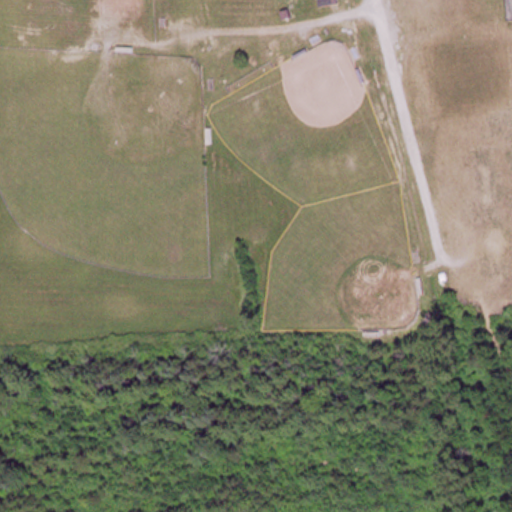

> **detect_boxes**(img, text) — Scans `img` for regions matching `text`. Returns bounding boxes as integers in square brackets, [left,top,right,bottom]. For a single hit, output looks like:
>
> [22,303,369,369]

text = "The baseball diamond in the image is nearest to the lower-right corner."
[264,182,418,331]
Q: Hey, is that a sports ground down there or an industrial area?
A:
sports ground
